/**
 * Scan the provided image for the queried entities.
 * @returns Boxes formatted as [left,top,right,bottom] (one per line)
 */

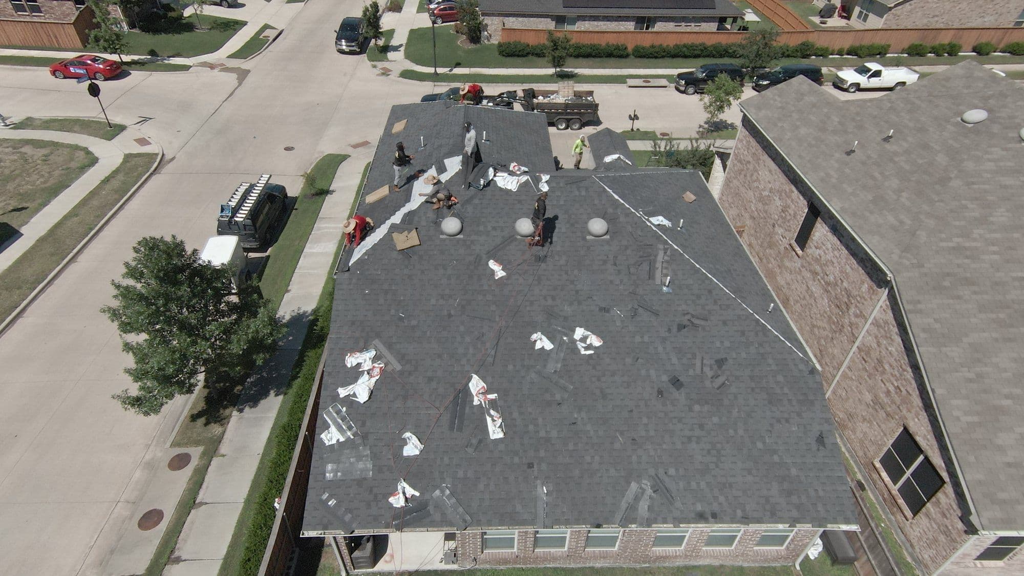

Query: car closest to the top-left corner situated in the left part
[46,53,125,83]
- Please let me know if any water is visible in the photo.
No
